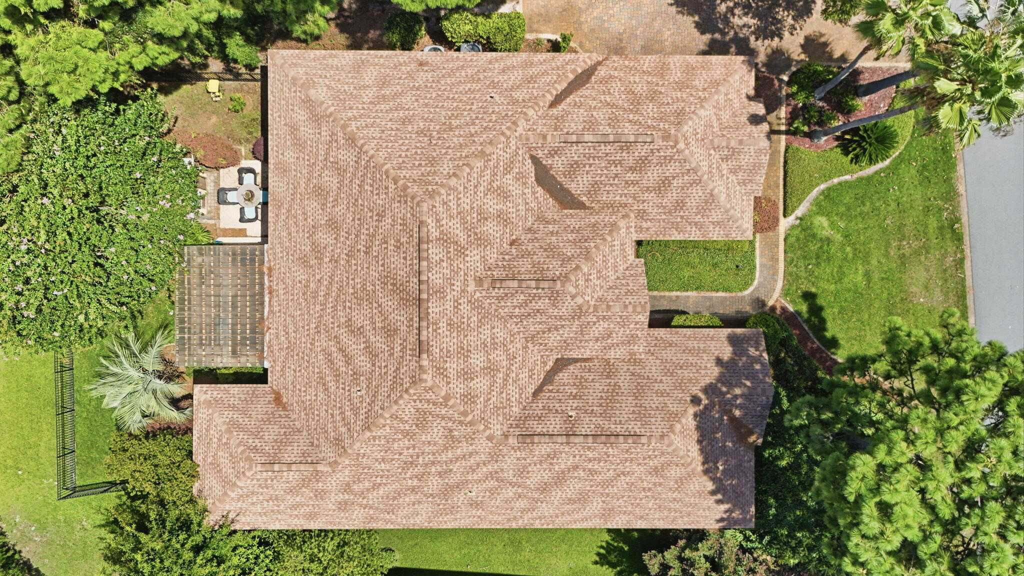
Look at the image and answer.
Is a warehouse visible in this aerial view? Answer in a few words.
No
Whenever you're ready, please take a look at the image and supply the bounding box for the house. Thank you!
[192,49,775,530]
